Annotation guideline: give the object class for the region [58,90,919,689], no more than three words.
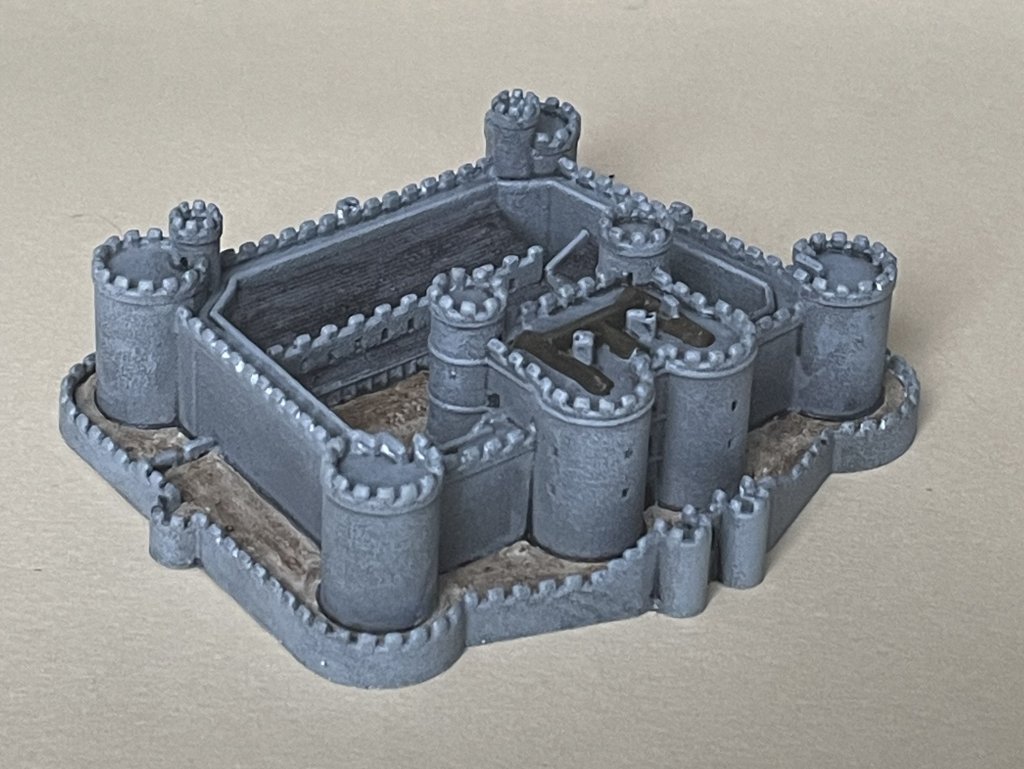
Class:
building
